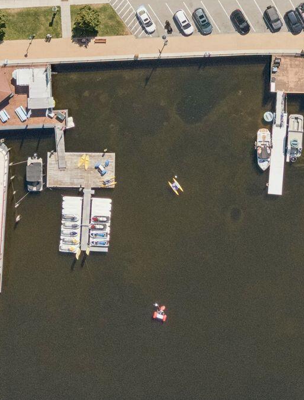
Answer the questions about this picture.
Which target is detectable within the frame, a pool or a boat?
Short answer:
boat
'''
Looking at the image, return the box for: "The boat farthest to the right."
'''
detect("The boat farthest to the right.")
[287,113,304,164]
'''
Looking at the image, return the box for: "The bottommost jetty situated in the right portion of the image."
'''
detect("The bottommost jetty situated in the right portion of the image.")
[266,113,287,195]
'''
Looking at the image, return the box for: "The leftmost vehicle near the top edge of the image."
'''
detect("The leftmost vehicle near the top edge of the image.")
[136,5,156,33]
